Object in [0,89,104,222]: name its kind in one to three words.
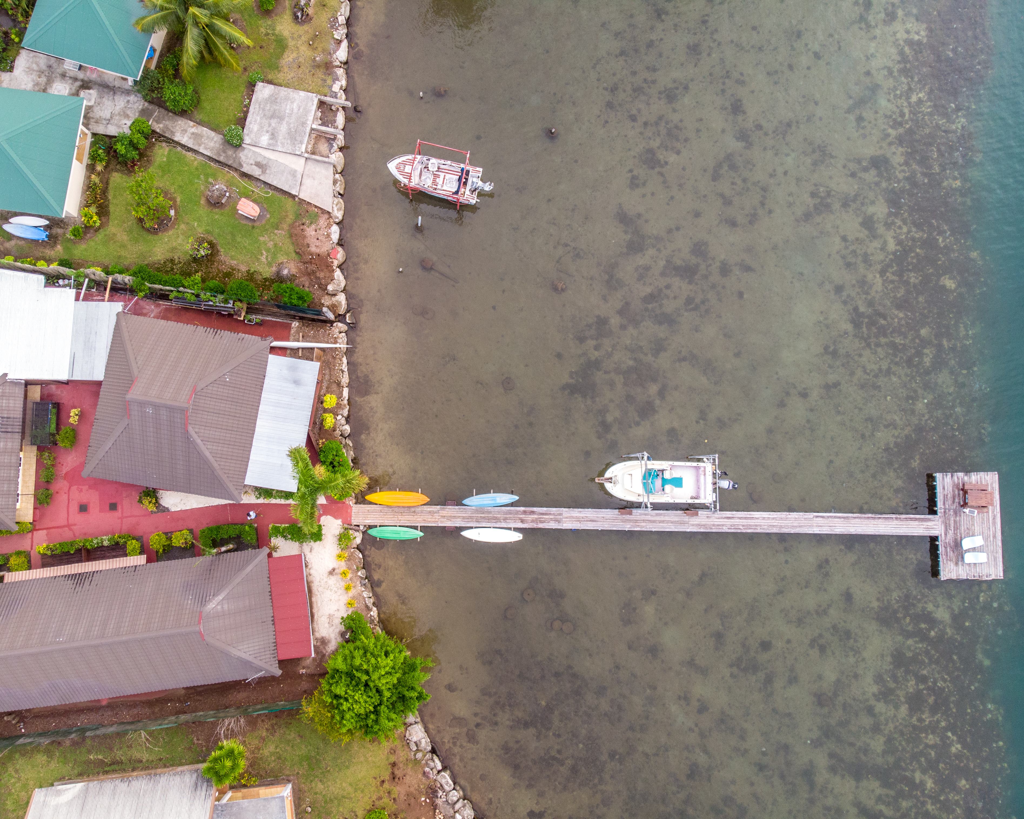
building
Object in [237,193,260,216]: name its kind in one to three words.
boat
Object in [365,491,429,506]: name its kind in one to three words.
boat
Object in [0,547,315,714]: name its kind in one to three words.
house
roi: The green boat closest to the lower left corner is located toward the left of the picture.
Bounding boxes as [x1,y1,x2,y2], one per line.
[367,526,424,540]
